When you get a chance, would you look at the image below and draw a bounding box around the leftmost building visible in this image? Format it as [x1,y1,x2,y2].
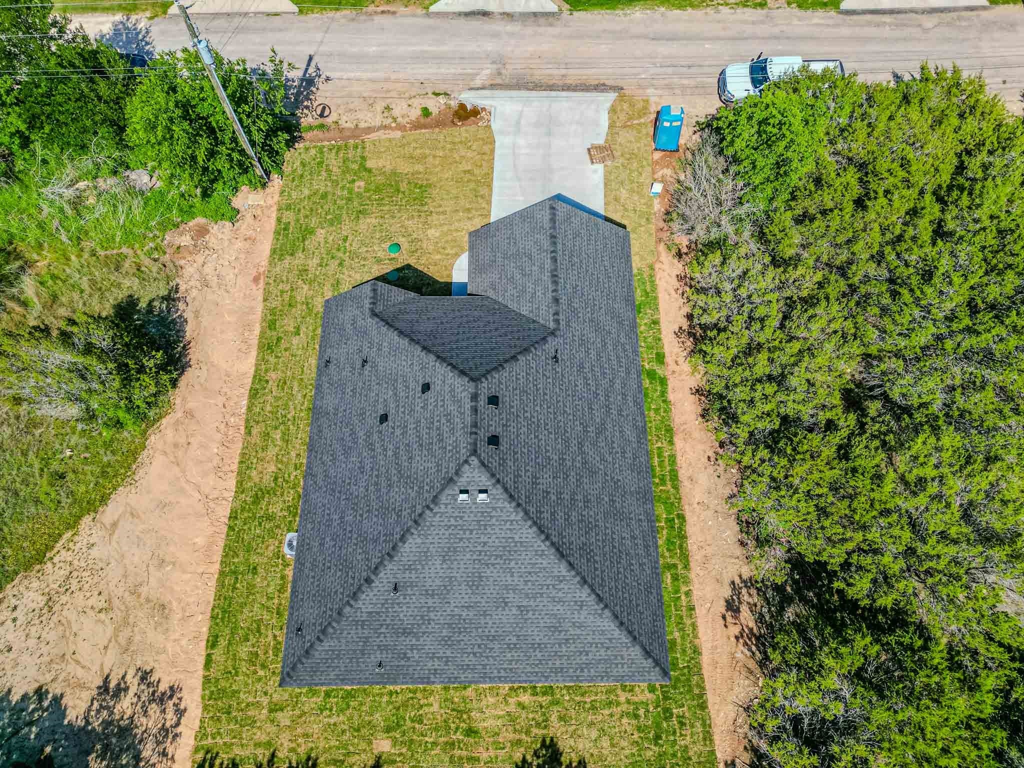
[280,196,669,687]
